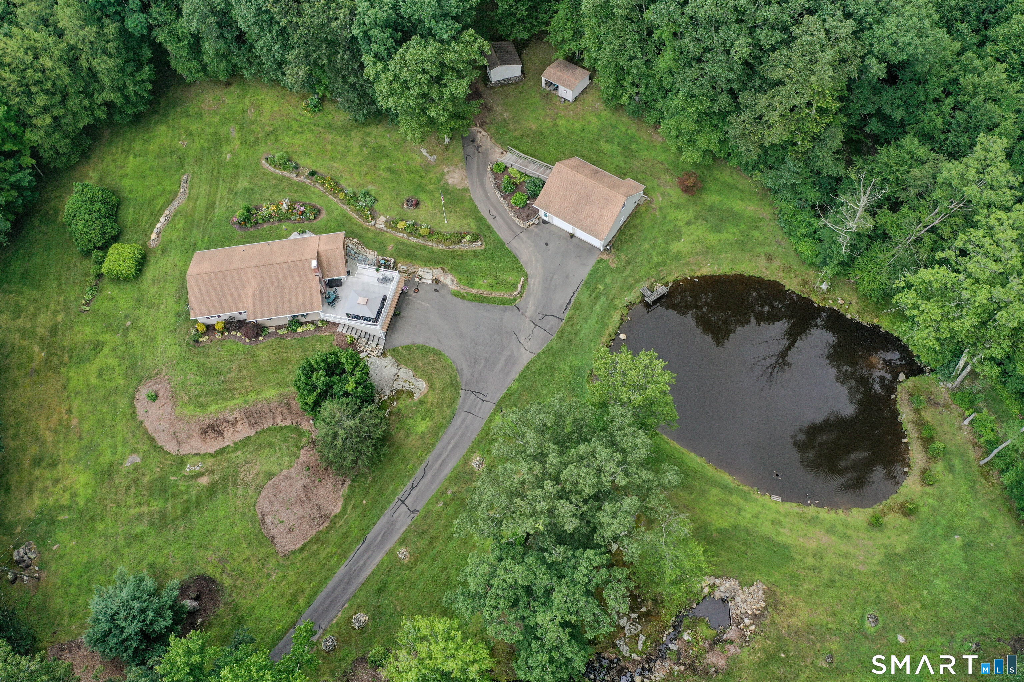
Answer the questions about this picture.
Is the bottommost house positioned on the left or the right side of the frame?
left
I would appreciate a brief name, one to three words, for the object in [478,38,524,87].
shed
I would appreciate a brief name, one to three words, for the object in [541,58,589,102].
shed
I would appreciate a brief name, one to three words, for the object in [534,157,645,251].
building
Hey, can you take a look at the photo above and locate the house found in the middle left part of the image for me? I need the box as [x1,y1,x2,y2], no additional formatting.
[185,231,349,328]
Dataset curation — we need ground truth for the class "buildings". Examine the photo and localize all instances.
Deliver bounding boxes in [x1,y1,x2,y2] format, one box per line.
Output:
[478,38,524,87]
[534,157,645,251]
[541,58,589,102]
[185,231,349,328]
